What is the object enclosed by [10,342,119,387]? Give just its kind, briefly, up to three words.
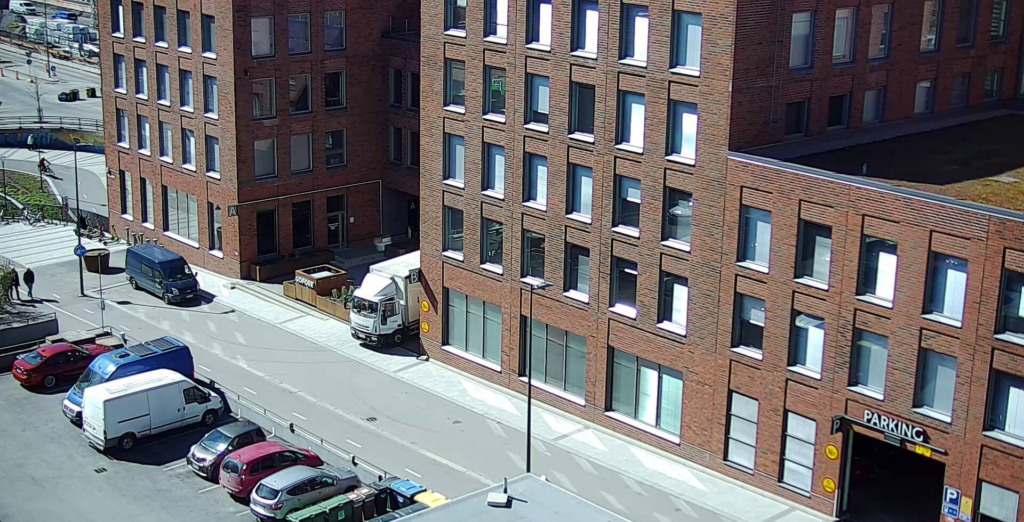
car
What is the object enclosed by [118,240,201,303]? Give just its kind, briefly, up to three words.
van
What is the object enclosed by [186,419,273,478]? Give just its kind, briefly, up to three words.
car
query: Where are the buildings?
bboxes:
[419,0,1024,522]
[97,0,380,275]
[393,472,637,522]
